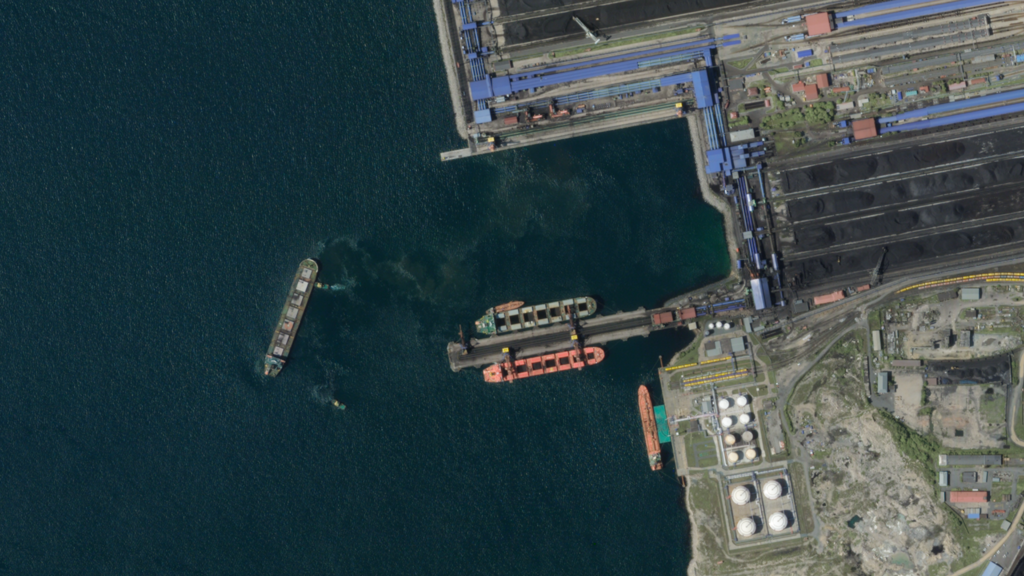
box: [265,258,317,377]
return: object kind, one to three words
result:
ship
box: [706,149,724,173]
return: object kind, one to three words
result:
house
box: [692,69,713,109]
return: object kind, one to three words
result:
shed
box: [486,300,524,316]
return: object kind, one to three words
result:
ship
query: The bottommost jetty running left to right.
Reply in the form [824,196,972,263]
[447,302,697,371]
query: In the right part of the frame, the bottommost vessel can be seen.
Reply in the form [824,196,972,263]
[638,385,662,473]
